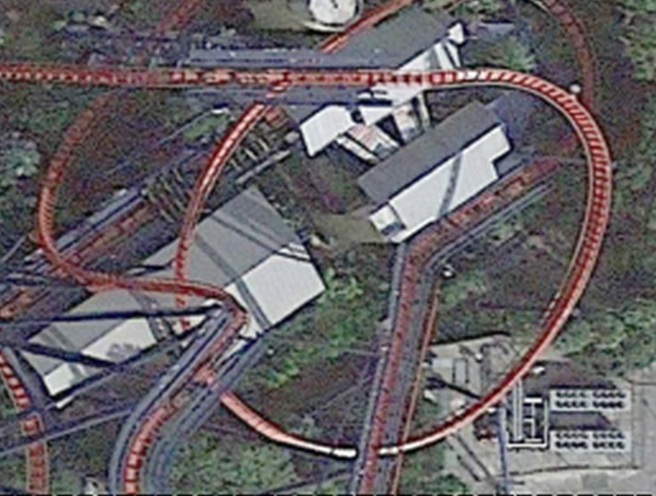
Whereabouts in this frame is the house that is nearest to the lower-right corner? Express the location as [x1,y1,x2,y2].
[497,378,549,448]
